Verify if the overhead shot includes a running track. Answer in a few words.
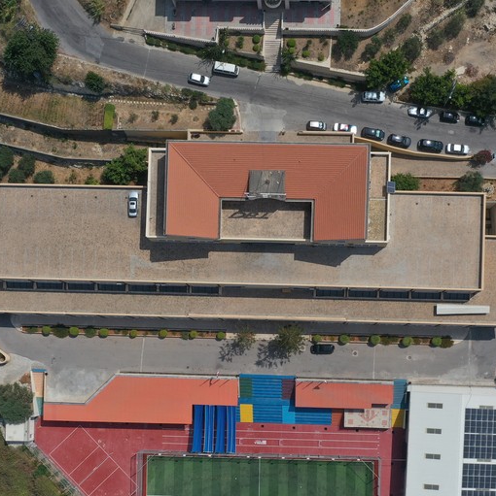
Yes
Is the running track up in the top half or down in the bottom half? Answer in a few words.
bottom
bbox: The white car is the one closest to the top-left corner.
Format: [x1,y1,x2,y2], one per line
[189,73,211,86]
